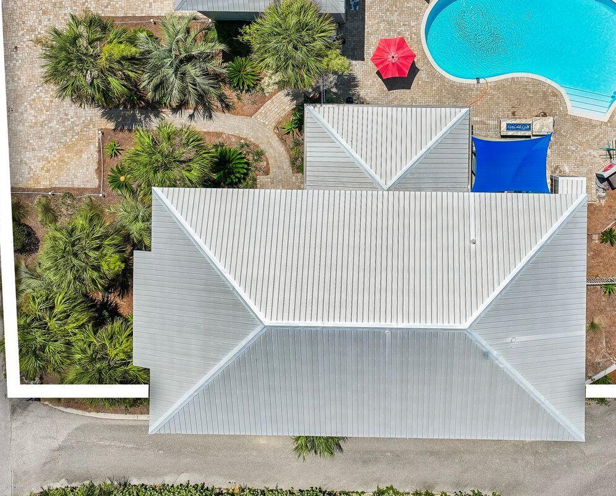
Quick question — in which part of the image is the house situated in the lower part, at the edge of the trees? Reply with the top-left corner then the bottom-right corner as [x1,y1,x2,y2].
[134,188,587,442]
